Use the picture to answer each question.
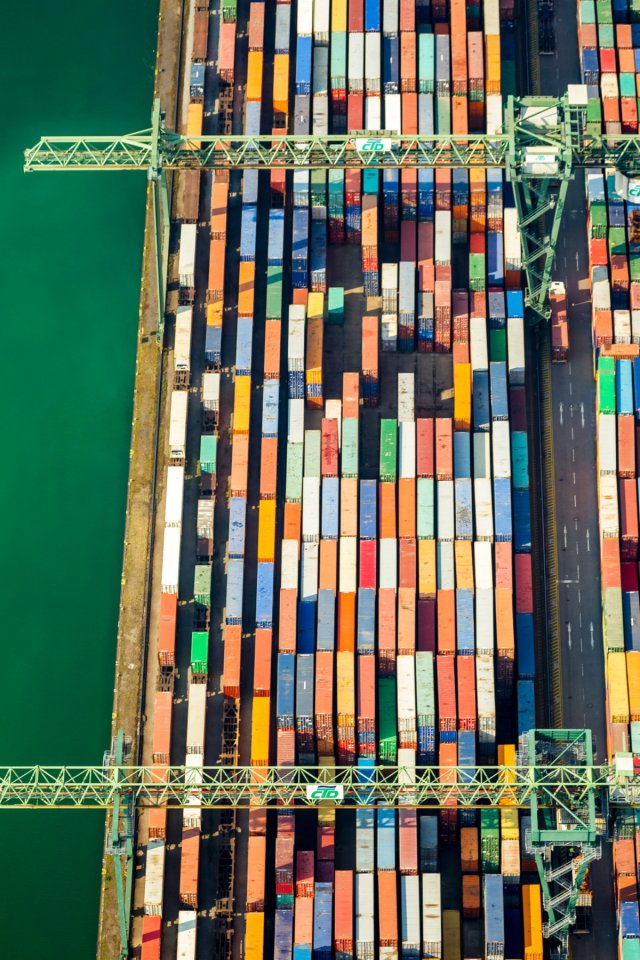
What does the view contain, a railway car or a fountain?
railway car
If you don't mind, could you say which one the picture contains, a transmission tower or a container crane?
container crane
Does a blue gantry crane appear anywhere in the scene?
No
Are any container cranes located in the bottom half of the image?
Yes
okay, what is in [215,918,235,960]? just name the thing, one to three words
rail car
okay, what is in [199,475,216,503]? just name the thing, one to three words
rail car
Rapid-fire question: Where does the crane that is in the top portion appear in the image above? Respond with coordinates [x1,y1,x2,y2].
[24,81,640,352]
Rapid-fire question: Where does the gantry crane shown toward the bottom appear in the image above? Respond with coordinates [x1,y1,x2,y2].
[0,729,640,960]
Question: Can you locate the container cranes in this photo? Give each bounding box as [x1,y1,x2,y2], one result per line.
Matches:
[24,81,640,352]
[0,729,640,960]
